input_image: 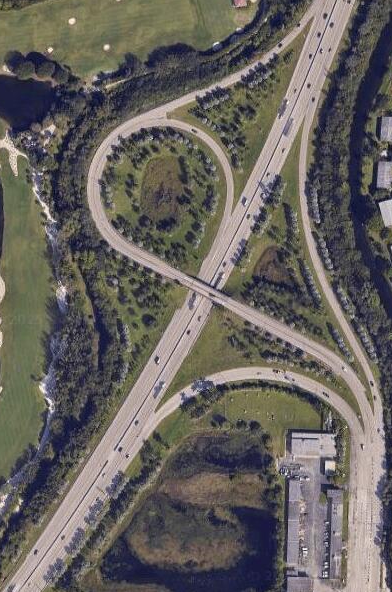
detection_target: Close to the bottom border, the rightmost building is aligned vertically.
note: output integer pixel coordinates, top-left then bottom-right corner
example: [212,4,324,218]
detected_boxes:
[331,489,344,579]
